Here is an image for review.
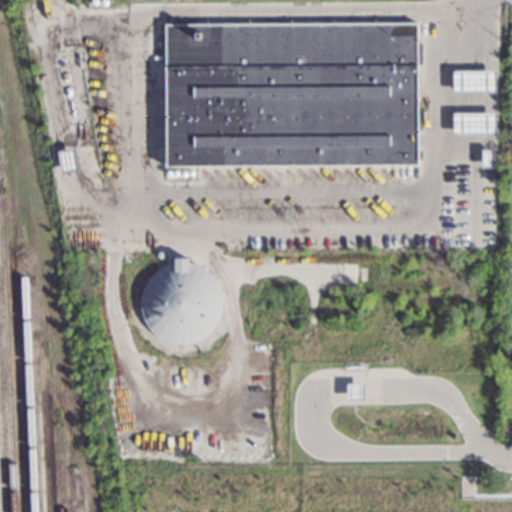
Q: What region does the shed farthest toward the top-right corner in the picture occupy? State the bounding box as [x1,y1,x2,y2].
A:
[453,70,497,94]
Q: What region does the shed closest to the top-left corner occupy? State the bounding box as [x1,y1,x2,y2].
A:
[59,151,76,174]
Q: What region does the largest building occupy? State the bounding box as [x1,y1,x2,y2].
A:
[165,22,418,166]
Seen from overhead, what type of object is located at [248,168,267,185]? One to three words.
vehicle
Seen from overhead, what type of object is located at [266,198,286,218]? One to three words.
vehicle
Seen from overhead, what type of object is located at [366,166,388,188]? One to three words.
truck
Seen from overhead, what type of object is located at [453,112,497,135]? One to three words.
shed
